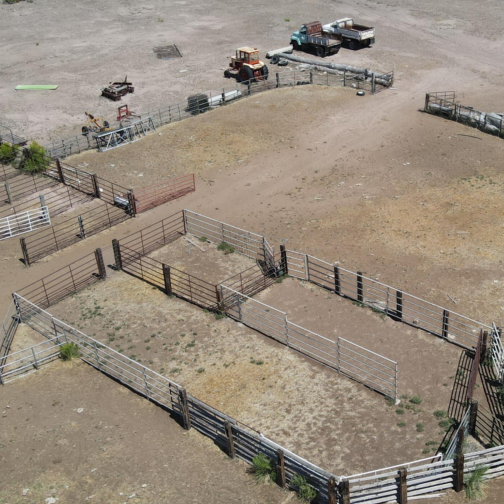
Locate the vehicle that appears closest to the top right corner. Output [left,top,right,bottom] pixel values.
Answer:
[326,17,379,49]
